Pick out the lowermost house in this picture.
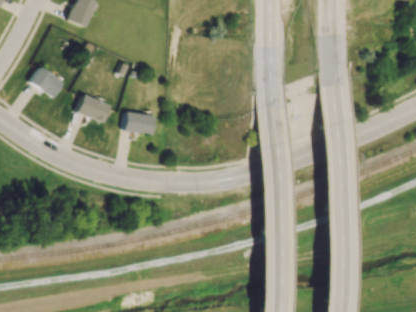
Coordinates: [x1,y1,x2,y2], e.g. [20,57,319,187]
[123,111,157,135]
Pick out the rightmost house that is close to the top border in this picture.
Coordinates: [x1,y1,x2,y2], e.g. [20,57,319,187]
[68,0,98,28]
